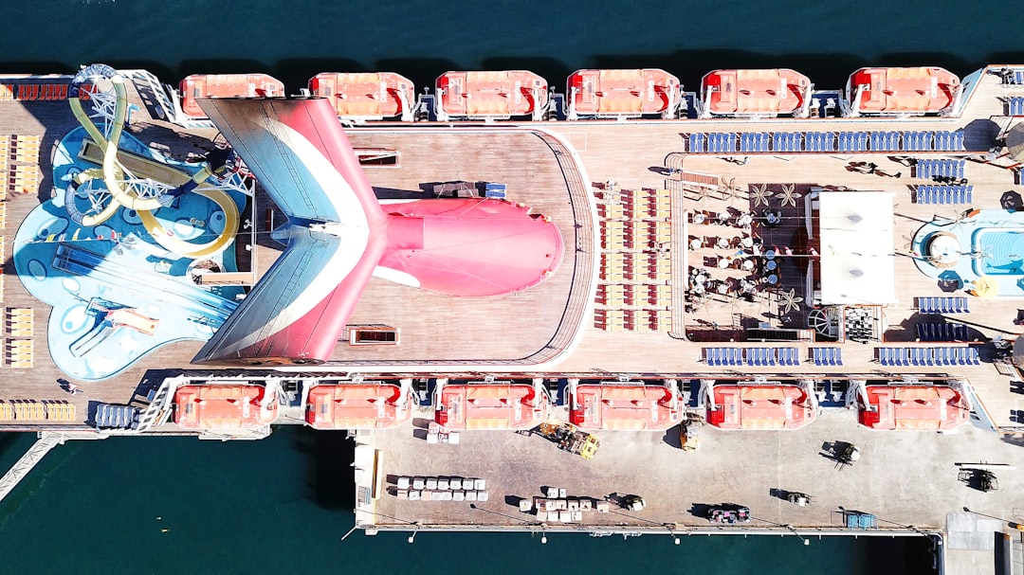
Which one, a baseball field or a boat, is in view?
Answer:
boat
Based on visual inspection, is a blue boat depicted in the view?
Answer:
No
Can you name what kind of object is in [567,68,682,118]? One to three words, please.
boat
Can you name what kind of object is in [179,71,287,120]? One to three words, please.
boat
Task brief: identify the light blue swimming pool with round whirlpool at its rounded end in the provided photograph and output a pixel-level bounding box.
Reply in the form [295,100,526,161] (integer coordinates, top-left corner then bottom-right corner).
[909,207,1024,297]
